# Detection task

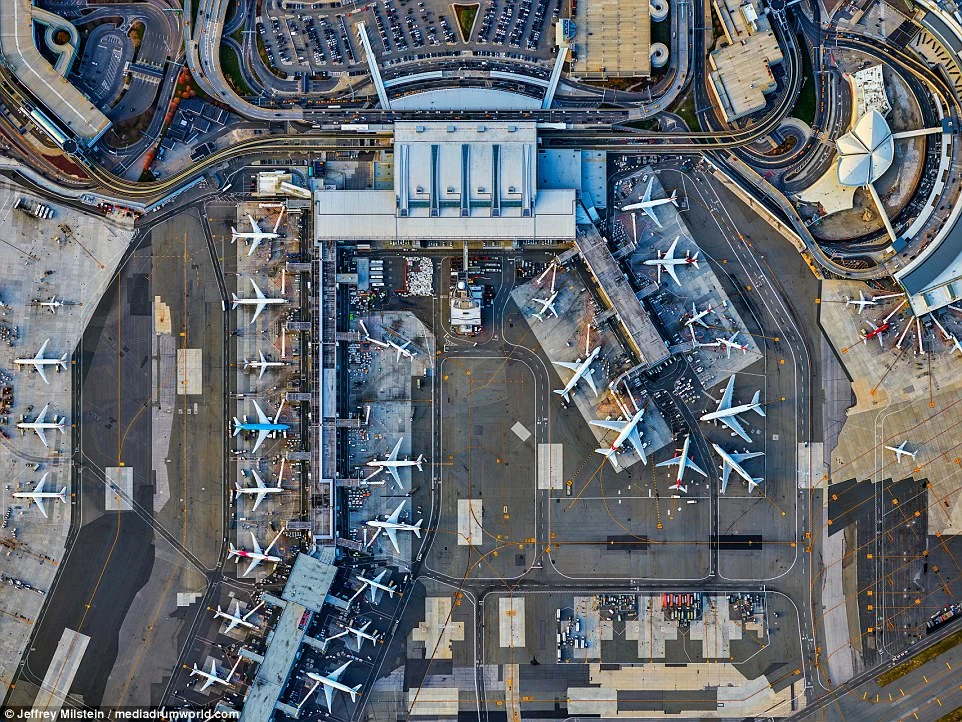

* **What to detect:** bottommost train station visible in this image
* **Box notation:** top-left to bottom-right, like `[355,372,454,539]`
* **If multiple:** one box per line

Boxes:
[23,103,81,156]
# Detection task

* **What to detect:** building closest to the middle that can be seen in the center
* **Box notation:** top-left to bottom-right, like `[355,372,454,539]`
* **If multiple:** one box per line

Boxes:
[450,282,484,330]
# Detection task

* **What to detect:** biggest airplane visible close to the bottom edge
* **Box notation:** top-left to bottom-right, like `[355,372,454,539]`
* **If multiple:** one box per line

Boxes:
[306,659,365,714]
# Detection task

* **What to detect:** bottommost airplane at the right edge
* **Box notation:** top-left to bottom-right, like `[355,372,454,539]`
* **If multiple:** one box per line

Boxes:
[885,440,918,464]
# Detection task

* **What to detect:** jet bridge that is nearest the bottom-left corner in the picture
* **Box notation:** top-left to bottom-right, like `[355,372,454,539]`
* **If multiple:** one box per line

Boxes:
[225,653,243,683]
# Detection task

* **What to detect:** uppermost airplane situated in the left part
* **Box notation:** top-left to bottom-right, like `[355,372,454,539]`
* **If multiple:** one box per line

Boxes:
[233,214,279,257]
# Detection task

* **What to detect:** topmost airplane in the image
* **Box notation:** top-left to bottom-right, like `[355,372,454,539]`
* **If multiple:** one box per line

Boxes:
[622,176,678,227]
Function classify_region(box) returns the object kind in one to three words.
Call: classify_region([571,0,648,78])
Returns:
building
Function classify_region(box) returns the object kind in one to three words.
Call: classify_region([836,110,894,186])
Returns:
building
